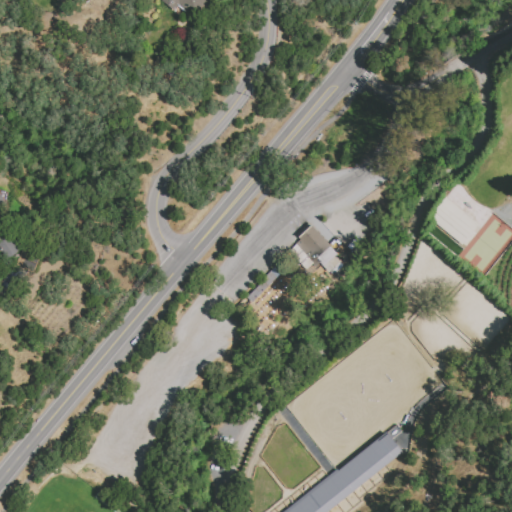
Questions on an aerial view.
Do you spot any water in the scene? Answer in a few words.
No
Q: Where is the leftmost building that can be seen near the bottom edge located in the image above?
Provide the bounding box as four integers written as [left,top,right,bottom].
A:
[286,426,404,512]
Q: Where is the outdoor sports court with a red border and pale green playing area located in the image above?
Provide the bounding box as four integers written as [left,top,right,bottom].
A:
[460,214,512,274]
